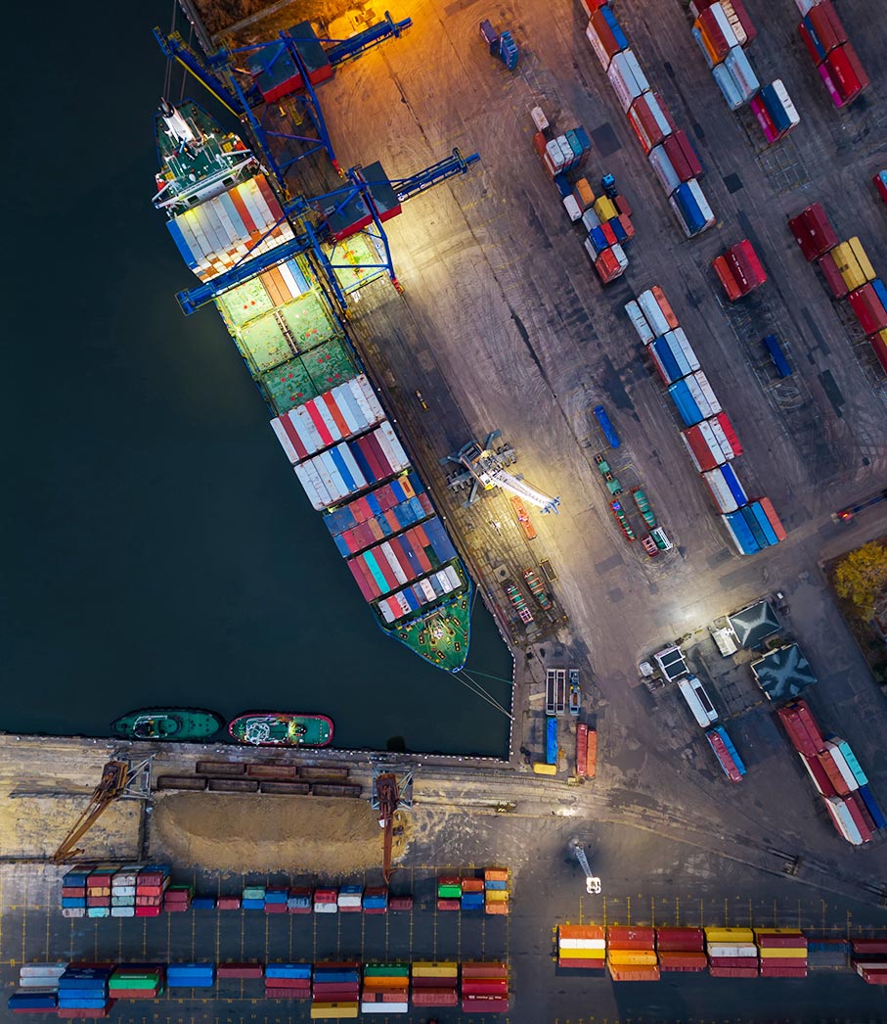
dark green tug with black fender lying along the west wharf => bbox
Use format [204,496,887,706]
[110,709,221,742]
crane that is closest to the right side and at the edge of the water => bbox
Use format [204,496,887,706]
[436,426,559,516]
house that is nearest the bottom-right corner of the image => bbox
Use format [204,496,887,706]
[748,642,817,700]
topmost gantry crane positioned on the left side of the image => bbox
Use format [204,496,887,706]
[145,1,411,197]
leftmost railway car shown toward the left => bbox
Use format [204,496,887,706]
[153,778,205,794]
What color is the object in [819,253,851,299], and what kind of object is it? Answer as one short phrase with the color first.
red shipping container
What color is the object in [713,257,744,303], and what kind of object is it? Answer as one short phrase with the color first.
red shipping container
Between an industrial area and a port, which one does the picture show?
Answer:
port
